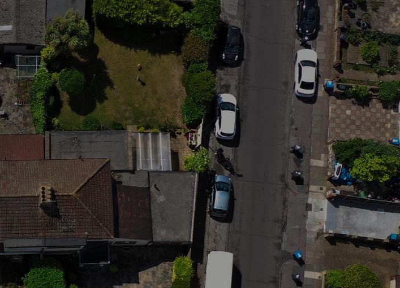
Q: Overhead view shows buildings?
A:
Yes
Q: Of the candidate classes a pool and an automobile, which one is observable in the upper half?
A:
automobile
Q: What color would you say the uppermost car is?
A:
black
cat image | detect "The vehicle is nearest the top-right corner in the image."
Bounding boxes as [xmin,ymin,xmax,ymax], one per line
[295,0,323,41]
